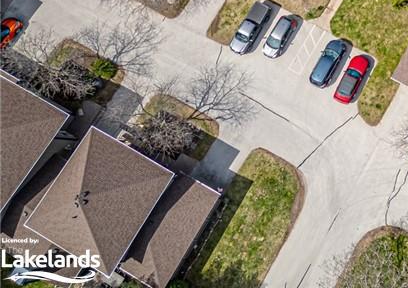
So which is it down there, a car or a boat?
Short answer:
car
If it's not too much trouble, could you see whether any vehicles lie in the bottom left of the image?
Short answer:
No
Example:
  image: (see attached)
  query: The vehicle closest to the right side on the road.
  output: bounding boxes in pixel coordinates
[333,56,368,103]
